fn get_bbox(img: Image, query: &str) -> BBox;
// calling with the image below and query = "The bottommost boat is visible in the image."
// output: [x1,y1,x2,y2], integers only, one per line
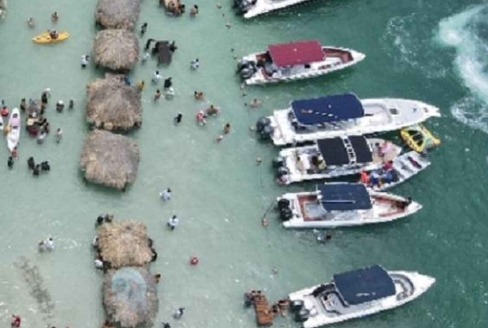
[284,267,437,328]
